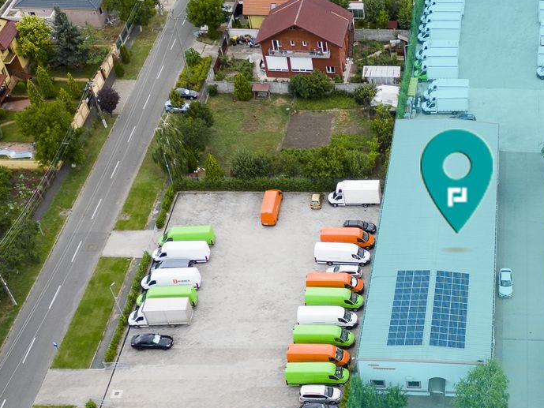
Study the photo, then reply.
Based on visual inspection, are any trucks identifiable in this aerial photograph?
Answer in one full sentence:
Yes, the image includes a truck.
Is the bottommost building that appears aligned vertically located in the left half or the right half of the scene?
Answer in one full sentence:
The bottommost building that appears aligned vertically sits on the right side.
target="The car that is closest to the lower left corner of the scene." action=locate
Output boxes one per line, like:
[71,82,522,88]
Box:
[131,334,174,351]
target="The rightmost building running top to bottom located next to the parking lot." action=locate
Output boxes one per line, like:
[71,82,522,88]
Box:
[357,116,500,392]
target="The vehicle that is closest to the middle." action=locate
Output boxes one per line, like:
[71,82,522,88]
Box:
[261,192,283,227]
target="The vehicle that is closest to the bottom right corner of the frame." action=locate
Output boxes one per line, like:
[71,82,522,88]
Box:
[497,268,514,296]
